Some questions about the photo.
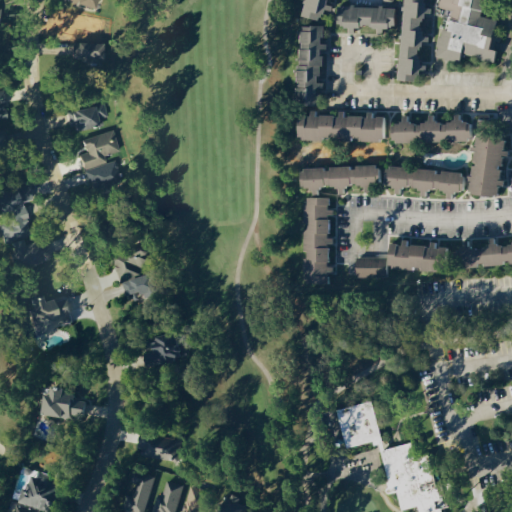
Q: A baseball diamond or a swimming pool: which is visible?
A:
swimming pool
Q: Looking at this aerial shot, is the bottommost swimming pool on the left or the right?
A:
left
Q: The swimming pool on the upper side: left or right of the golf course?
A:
right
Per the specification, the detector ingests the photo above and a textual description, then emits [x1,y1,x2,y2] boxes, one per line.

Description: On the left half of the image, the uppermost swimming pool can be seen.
[40,330,70,352]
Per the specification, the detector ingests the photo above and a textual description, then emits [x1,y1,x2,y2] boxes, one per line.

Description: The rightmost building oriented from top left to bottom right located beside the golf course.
[338,402,443,512]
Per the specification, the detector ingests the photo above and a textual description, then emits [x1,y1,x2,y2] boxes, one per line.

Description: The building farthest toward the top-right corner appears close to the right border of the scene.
[436,0,498,62]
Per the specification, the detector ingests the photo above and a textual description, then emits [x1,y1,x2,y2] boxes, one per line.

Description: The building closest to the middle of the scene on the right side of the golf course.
[302,197,334,288]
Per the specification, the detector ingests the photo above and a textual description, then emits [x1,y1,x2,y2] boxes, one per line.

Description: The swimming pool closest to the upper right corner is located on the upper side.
[424,150,472,170]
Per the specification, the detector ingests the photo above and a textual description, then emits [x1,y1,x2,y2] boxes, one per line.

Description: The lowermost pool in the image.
[12,468,38,501]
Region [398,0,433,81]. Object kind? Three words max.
building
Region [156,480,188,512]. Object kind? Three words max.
house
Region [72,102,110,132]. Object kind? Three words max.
house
